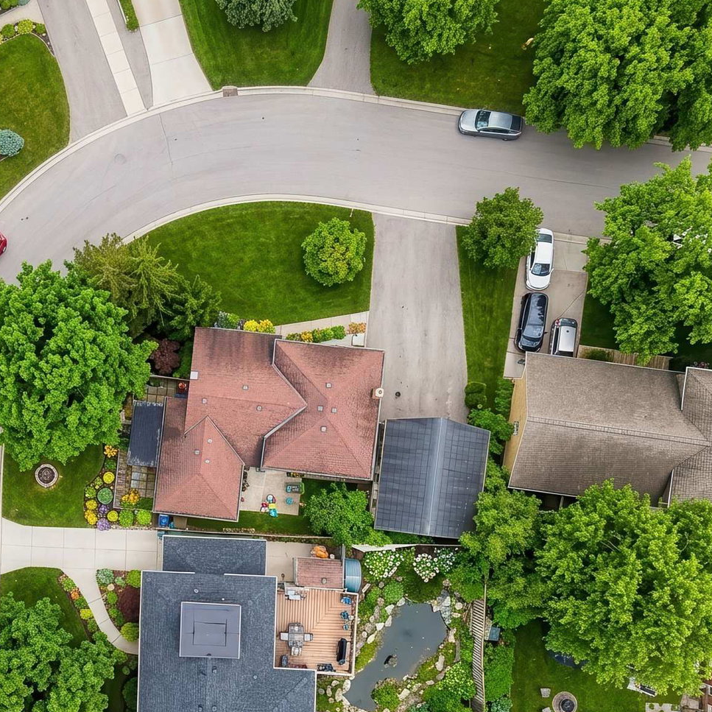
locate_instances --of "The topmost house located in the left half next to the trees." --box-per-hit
[153,327,386,523]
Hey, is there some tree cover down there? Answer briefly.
Yes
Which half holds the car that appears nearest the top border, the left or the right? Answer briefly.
right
